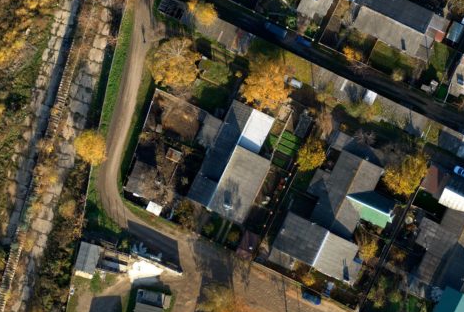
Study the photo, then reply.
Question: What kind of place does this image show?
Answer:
residential area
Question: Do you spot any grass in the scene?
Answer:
Yes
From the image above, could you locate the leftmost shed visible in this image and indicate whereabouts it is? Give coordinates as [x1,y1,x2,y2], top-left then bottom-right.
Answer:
[75,241,104,274]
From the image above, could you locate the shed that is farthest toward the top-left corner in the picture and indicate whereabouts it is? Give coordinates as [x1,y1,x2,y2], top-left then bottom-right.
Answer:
[158,0,186,19]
